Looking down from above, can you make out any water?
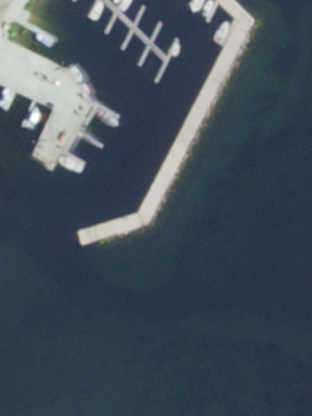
Yes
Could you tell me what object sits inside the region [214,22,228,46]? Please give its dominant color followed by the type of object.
white boat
